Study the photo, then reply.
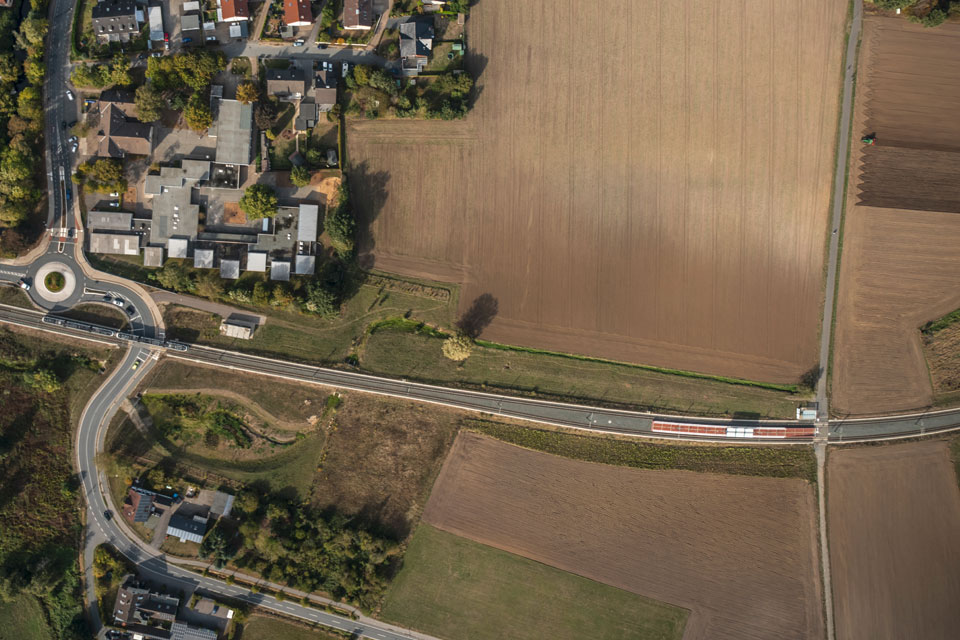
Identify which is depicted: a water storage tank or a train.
train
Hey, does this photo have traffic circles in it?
Yes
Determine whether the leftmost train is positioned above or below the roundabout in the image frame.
below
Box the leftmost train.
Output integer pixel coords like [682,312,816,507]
[42,315,113,335]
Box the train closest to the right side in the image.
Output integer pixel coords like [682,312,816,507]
[116,331,188,350]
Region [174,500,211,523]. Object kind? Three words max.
building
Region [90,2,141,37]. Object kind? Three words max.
house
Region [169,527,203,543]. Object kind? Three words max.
solar array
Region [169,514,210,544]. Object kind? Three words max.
barn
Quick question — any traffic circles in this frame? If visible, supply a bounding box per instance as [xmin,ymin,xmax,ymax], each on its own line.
[24,250,87,314]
